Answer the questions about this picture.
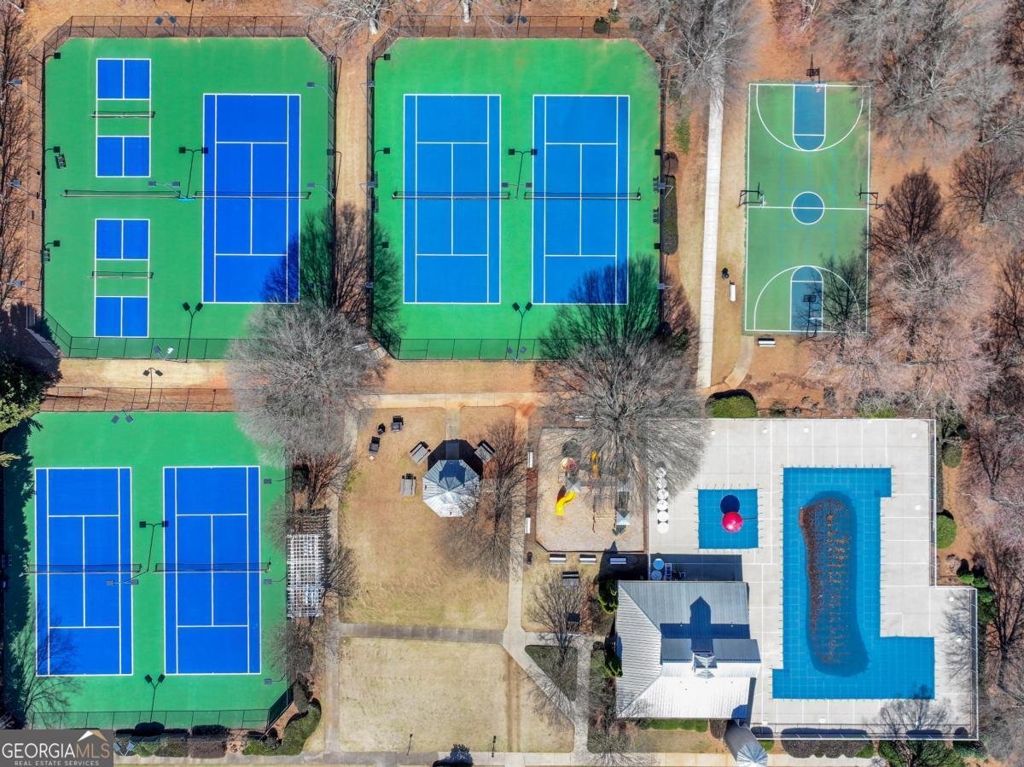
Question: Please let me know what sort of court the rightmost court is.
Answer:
basketball court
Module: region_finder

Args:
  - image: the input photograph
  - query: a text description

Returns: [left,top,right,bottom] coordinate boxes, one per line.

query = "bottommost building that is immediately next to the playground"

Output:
[616,580,764,720]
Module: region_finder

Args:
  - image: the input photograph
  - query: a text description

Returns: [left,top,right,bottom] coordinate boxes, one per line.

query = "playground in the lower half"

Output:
[537,429,647,551]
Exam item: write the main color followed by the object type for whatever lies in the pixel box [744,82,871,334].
green basketball court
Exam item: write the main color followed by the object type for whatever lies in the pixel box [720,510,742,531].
red fountain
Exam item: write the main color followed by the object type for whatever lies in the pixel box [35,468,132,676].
blue tennis court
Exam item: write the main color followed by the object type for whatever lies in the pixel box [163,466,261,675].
blue tennis court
